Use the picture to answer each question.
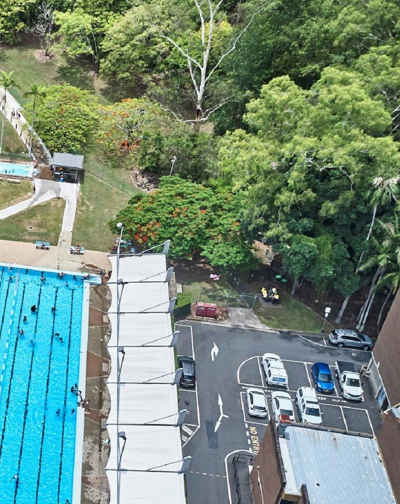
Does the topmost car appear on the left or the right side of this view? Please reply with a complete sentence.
The topmost car appears in the right half of the scene.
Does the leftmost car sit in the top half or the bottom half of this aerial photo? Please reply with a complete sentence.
It is in the bottom half that the leftmost car appears.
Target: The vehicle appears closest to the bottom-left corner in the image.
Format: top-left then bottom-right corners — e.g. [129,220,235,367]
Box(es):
[179,354,200,387]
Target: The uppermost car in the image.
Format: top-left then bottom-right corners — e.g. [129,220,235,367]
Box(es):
[330,327,374,354]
